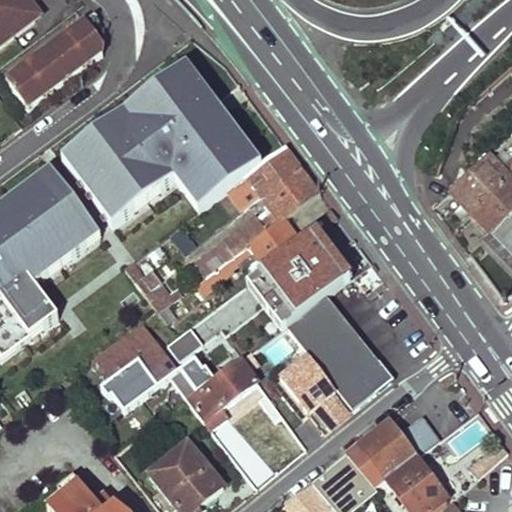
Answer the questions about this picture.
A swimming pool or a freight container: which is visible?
swimming pool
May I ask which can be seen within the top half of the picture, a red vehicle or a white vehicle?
white vehicle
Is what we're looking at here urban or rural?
urban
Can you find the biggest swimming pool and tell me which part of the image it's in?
bottom right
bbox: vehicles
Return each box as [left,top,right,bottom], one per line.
[38,401,58,421]
[450,269,468,290]
[503,352,512,370]
[86,8,102,26]
[288,478,309,496]
[448,400,468,421]
[408,341,429,358]
[464,502,488,512]
[467,354,490,382]
[388,309,410,327]
[422,294,440,316]
[258,26,278,48]
[306,463,328,482]
[103,454,120,472]
[489,473,500,494]
[30,474,51,494]
[500,465,512,491]
[390,392,414,412]
[70,88,92,106]
[402,329,424,347]
[378,300,400,318]
[310,116,328,138]
[17,28,38,48]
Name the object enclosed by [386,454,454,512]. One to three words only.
house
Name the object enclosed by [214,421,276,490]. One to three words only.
shed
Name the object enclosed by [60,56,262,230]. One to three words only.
building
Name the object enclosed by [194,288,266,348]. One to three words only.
shed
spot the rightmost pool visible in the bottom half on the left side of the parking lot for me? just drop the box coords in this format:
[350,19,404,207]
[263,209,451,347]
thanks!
[264,336,296,367]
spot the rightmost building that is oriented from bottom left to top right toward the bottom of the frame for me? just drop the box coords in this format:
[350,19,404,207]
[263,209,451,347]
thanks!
[470,451,508,484]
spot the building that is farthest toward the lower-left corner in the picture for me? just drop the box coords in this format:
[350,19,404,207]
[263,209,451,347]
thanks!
[45,472,104,512]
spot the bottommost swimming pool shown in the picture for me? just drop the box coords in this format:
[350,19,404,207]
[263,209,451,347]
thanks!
[446,418,492,459]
